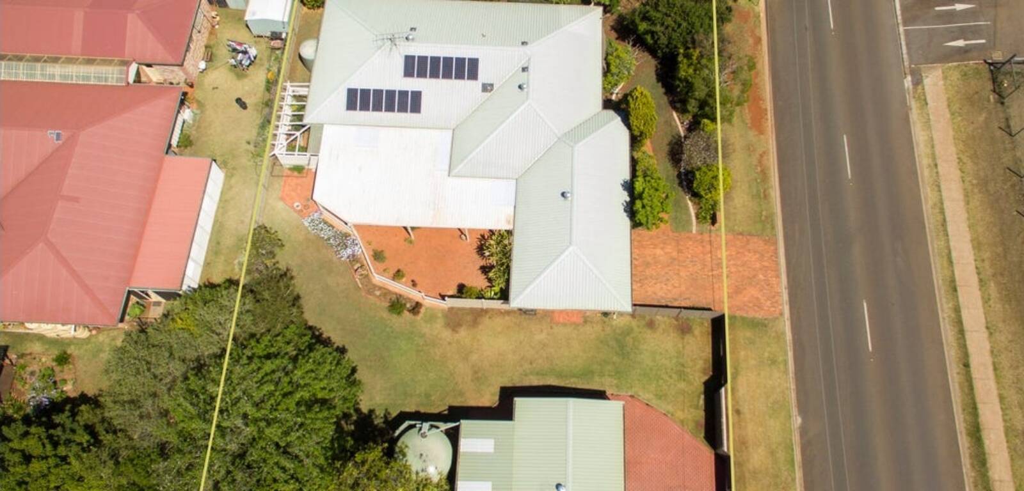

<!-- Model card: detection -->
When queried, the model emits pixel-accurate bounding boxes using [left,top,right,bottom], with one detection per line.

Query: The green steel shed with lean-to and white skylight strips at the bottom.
[454,397,627,491]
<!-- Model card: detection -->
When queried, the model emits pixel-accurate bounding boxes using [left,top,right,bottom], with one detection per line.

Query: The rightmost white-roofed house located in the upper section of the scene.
[304,0,633,314]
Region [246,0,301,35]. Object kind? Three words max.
shed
